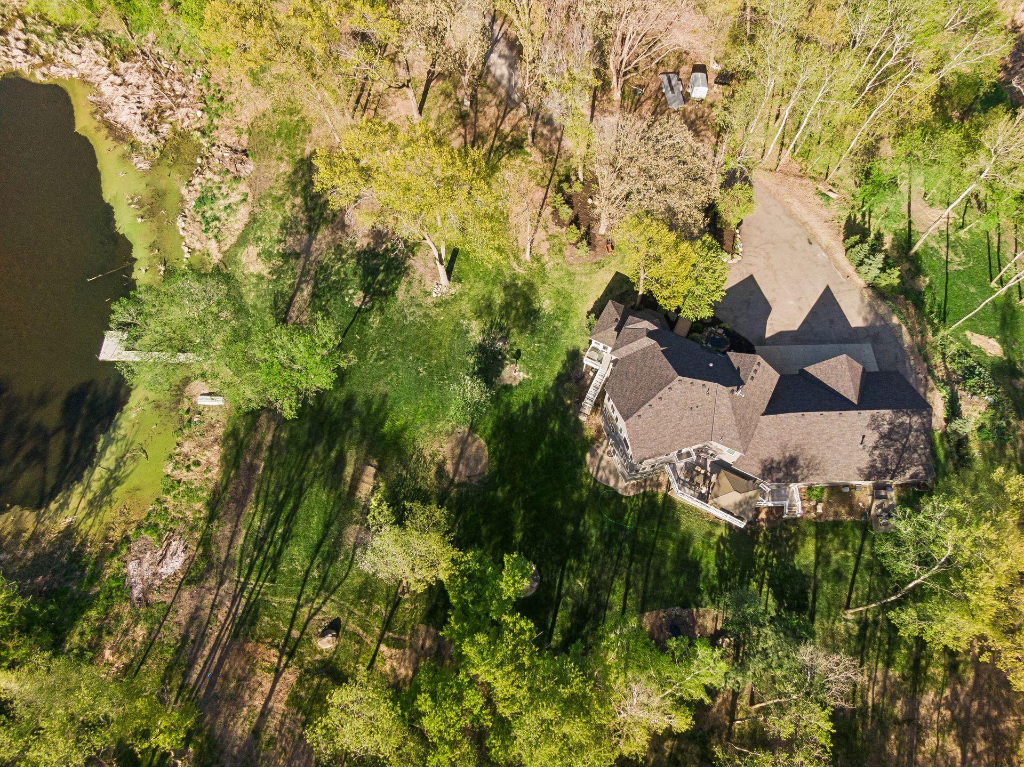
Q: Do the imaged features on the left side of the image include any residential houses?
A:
No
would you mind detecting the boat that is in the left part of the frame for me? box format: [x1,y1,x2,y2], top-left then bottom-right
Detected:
[195,393,225,405]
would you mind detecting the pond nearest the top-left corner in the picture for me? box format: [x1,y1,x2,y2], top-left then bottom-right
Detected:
[0,73,142,517]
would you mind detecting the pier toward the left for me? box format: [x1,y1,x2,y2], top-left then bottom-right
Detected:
[99,330,188,363]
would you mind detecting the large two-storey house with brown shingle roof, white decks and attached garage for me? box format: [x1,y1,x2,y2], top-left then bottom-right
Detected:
[577,300,935,529]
